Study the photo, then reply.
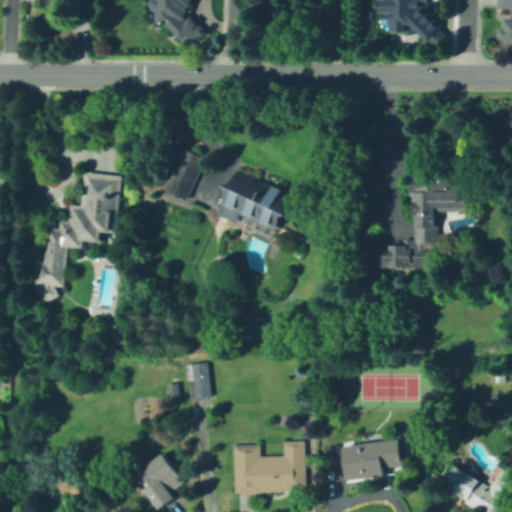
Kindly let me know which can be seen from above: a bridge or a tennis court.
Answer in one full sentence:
Visible in the photo is a tennis court.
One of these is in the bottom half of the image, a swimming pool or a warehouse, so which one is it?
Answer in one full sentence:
You can see a swimming pool in the bottom half of the image.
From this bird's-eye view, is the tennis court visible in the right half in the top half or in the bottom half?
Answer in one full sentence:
Seen from above, the tennis court visible in the right half lies in the bottom half of the view.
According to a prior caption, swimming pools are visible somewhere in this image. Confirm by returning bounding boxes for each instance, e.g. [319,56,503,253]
[246,236,270,274]
[472,444,499,474]
[98,268,117,308]
[450,218,476,232]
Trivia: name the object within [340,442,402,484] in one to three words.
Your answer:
house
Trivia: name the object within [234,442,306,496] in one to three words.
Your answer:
house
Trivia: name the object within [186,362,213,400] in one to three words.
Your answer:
shed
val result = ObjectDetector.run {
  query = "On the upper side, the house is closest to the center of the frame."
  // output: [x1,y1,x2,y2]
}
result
[215,172,289,228]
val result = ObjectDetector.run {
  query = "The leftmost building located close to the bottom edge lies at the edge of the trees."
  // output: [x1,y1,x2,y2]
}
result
[140,454,186,510]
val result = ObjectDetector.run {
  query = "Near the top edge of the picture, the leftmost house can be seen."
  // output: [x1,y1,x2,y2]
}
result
[146,0,200,41]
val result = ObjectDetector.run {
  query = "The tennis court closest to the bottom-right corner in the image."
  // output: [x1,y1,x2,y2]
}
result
[354,366,430,410]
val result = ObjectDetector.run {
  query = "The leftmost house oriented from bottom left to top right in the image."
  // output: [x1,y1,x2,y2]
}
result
[34,173,120,302]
